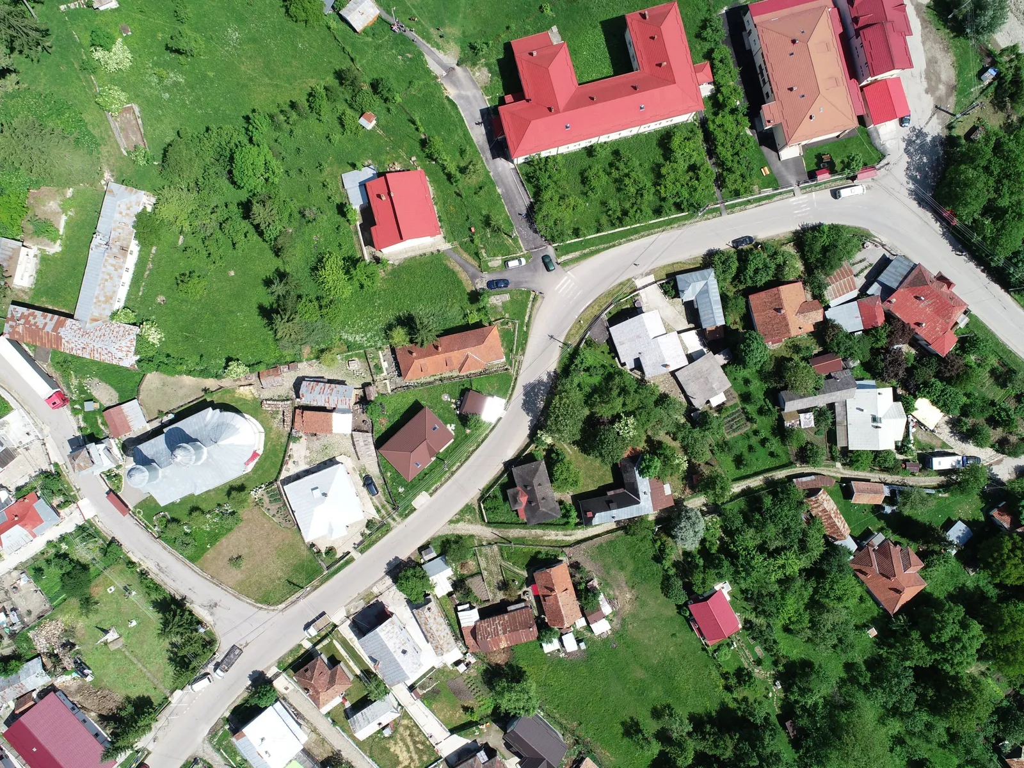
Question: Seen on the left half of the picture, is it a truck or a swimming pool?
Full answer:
Visible on the left half of the picture is a truck.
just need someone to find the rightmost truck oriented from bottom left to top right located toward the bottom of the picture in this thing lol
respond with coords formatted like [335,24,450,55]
[304,610,332,634]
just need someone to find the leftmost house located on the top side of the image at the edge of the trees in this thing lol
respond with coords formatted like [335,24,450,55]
[0,240,41,289]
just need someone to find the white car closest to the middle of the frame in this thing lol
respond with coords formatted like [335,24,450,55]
[504,257,525,269]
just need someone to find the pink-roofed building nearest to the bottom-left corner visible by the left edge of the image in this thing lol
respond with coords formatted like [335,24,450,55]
[3,683,128,768]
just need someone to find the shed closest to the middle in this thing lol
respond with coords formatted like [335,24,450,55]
[462,391,505,422]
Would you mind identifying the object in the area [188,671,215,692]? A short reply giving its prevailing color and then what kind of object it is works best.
white vehicle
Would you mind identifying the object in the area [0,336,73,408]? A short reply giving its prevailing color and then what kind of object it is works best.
white truck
